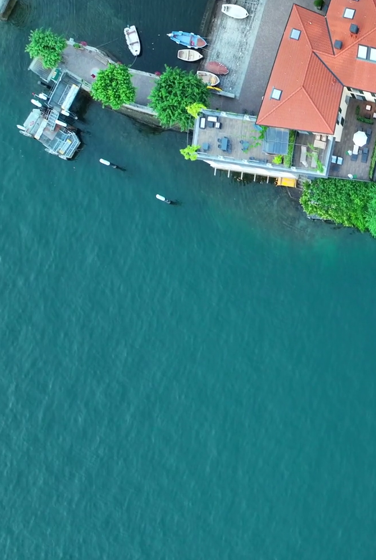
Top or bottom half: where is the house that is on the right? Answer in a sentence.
It is in the top half that the house that is on the right appears.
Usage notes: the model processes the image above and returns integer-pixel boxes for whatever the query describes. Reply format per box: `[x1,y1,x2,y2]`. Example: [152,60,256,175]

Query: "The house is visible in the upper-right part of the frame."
[255,0,376,142]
